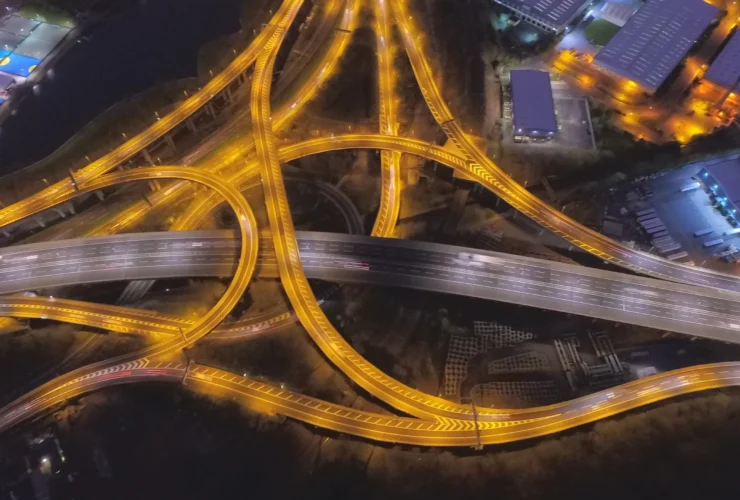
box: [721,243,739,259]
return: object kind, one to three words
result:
vehicle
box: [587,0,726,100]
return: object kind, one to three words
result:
building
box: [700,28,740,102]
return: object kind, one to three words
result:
building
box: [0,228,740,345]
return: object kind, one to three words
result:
bridge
